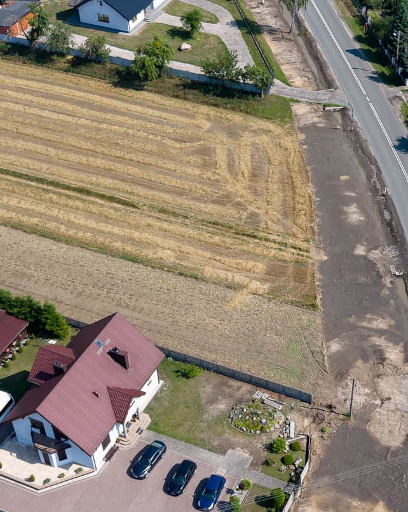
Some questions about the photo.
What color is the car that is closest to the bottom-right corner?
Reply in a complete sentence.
In this view, the car that is closest to the bottom-right corner is blue.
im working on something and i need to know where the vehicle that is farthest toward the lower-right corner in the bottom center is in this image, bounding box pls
[194,469,228,512]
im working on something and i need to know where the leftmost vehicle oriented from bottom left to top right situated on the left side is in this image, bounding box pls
[128,436,169,481]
